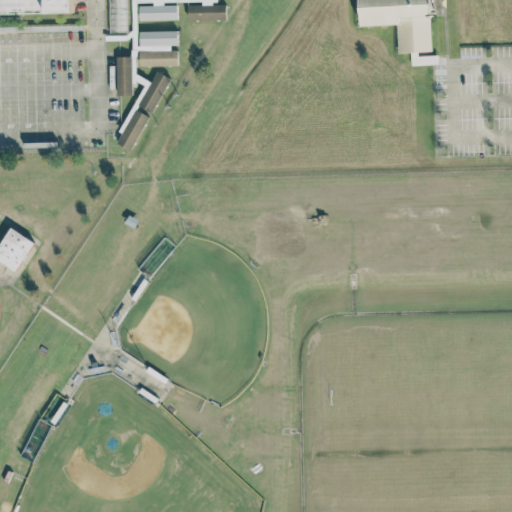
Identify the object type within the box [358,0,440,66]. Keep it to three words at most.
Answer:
building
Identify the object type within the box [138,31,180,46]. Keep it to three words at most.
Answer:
building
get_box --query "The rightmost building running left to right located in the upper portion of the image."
[188,6,228,22]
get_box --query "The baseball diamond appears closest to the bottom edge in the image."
[12,374,263,512]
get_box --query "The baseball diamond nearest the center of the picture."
[118,235,268,407]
